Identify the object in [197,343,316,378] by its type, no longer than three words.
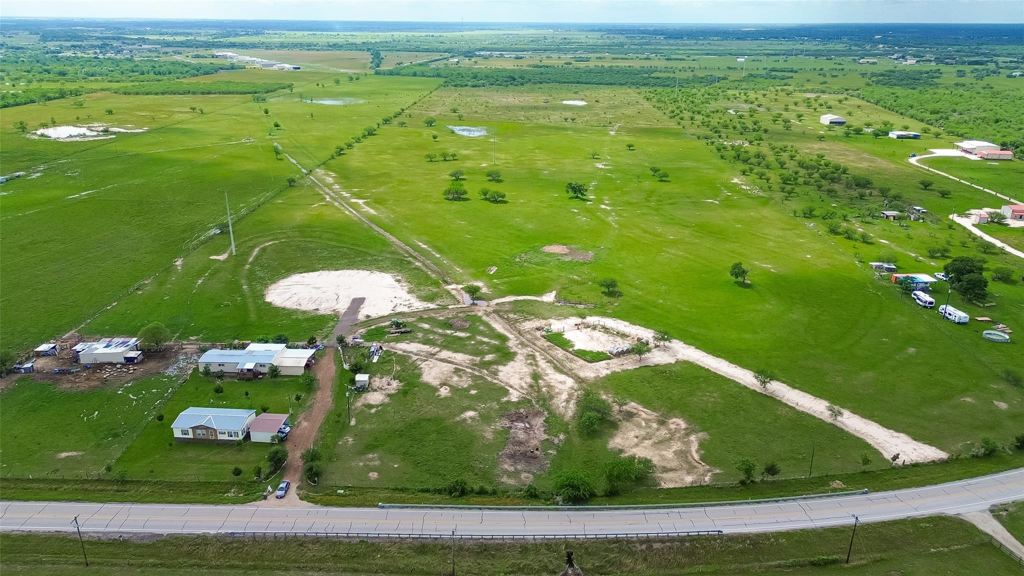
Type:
house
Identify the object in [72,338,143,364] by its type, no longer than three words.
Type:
barn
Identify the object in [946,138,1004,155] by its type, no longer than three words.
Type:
hangar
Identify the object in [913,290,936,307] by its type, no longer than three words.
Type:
camper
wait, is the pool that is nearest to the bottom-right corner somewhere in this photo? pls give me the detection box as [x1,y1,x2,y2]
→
[981,328,1013,342]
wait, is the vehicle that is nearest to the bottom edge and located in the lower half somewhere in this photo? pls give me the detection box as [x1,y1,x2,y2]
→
[275,481,290,497]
